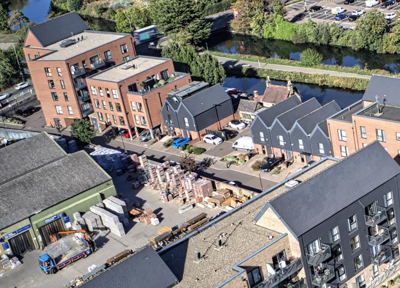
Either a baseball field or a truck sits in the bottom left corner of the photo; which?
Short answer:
truck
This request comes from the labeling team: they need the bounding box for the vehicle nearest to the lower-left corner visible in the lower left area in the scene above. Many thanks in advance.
[33,218,100,265]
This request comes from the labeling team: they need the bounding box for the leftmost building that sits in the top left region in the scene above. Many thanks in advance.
[22,11,137,124]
